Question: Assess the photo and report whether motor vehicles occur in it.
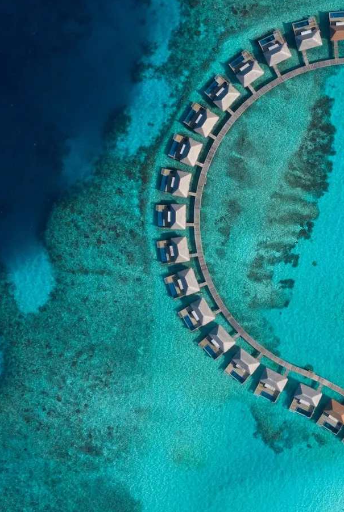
No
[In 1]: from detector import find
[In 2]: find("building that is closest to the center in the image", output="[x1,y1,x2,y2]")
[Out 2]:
[156,237,192,265]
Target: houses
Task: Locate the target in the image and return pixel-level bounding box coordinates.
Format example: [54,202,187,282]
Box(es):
[155,203,189,229]
[315,398,344,437]
[292,16,323,52]
[253,367,289,405]
[166,133,204,166]
[227,49,265,88]
[287,382,322,419]
[257,29,293,68]
[202,73,242,112]
[182,101,221,137]
[178,297,216,334]
[164,268,202,300]
[198,325,236,361]
[159,168,193,197]
[156,237,192,265]
[328,11,344,42]
[224,348,261,386]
